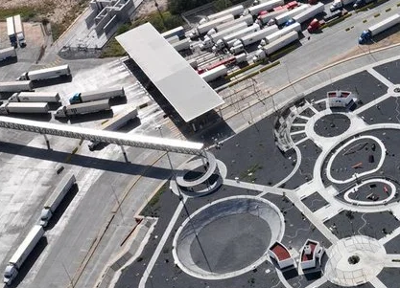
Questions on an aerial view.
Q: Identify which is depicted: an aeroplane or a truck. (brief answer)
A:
truck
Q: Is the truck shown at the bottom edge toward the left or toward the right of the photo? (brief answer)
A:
left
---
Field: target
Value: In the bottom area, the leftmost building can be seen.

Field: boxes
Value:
[267,242,291,274]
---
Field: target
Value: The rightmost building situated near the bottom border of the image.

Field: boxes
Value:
[299,237,319,274]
